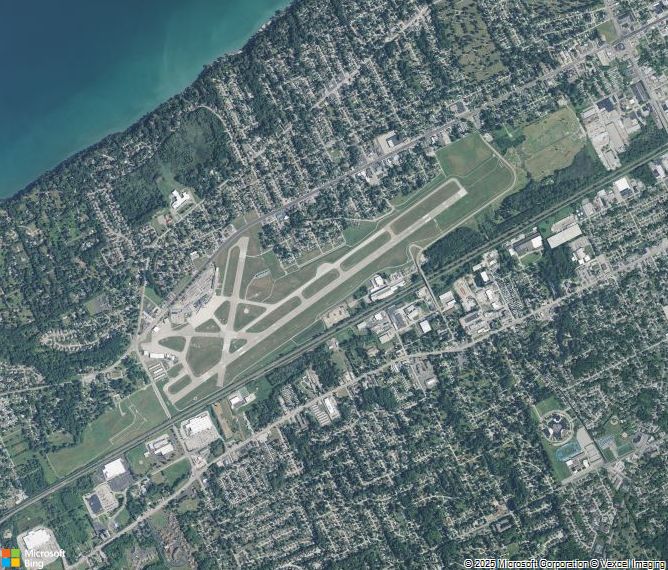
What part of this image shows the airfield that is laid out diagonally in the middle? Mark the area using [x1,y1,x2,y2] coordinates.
[139,130,514,416]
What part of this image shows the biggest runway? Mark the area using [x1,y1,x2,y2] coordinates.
[169,191,463,404]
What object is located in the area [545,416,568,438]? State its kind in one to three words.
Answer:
building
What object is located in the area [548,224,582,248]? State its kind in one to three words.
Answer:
building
